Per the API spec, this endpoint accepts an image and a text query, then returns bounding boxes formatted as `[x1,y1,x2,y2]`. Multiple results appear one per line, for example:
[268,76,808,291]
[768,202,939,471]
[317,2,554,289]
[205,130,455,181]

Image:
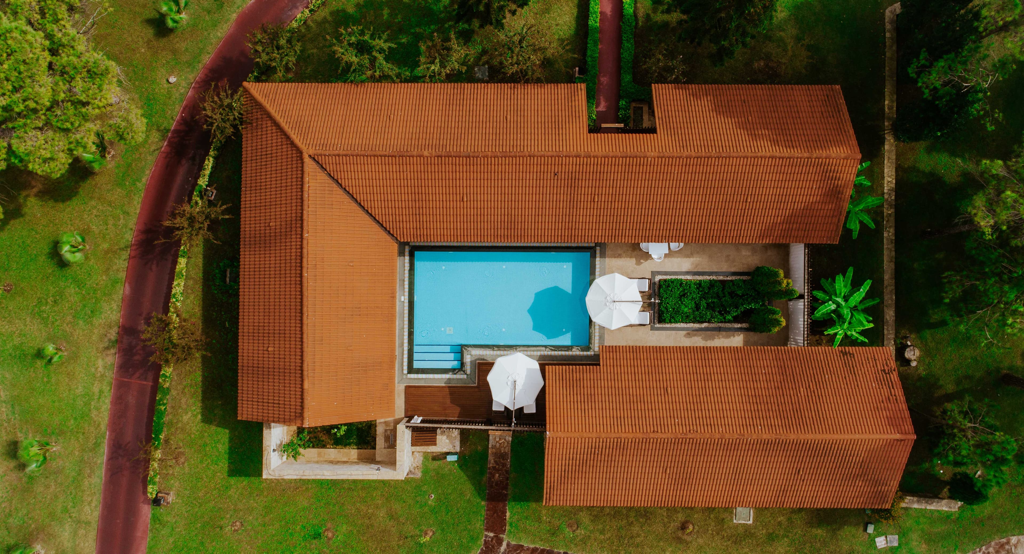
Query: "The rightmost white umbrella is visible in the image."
[584,272,662,330]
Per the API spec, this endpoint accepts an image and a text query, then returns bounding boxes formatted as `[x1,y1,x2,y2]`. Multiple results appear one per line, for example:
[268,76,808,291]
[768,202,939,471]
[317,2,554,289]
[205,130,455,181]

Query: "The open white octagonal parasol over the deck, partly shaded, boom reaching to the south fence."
[486,350,544,428]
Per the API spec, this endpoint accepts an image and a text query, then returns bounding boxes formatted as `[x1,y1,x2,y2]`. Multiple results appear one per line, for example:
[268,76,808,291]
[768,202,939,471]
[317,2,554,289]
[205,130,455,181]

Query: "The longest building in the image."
[237,81,865,429]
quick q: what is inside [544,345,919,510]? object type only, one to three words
house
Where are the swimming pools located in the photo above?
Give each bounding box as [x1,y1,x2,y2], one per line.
[414,252,591,369]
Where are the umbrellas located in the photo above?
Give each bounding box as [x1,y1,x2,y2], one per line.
[584,272,662,330]
[486,350,544,428]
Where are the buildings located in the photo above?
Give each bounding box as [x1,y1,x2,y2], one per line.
[237,81,865,429]
[544,345,919,510]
